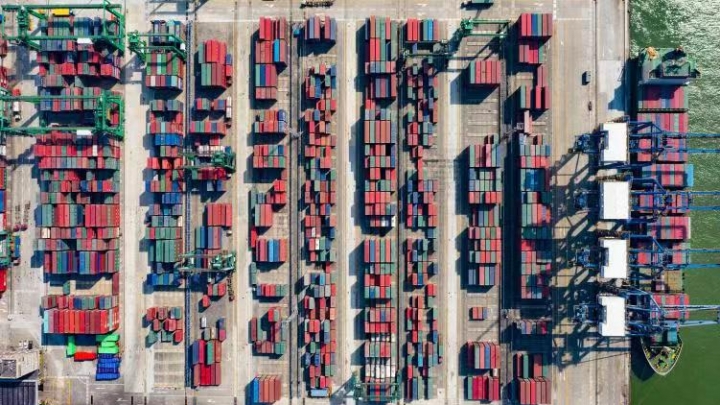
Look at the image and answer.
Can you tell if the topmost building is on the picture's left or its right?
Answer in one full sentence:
It is on the left.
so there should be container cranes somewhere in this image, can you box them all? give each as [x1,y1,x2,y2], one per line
[569,226,720,283]
[400,39,451,69]
[183,248,238,271]
[456,19,509,51]
[125,33,187,62]
[569,174,720,226]
[351,368,400,400]
[0,95,133,141]
[569,118,720,174]
[569,278,720,338]
[183,153,238,173]
[0,3,133,57]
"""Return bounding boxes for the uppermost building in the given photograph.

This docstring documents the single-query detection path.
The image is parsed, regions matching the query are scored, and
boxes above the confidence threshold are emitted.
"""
[0,347,39,380]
